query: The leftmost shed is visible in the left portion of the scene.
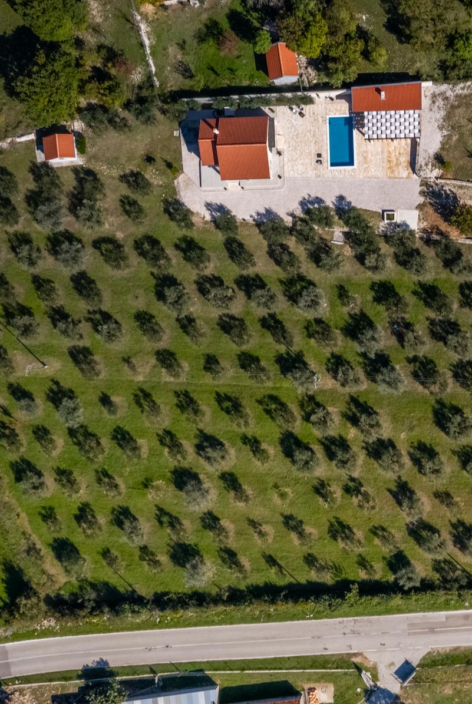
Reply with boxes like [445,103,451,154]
[43,134,78,160]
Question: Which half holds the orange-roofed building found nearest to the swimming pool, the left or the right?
right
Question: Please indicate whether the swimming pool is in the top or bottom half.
top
